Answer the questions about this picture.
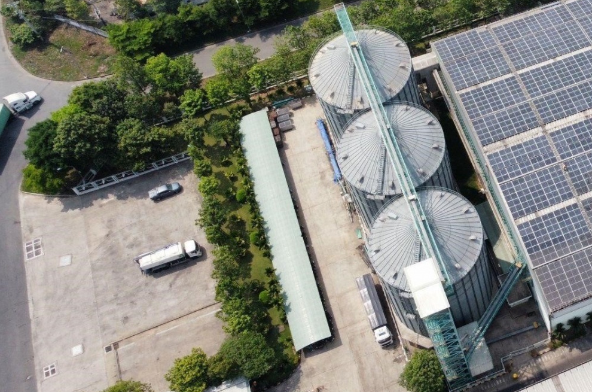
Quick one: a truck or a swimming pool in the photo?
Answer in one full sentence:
I can see a truck in this picture.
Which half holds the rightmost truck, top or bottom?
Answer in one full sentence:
The bottom half of the photo is where the rightmost truck is.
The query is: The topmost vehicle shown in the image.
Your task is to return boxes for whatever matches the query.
[4,90,46,121]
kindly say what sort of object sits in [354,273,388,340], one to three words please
truck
